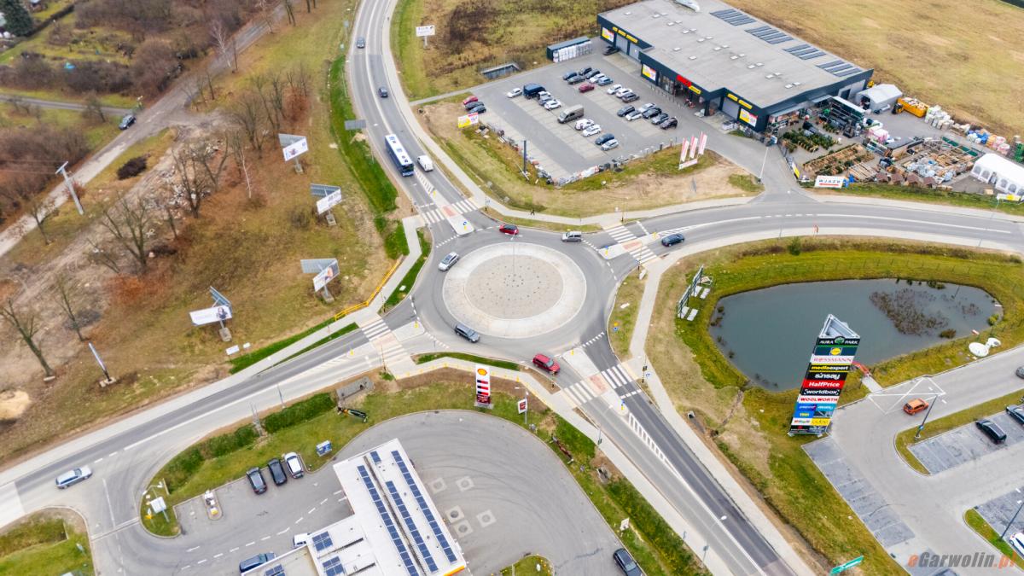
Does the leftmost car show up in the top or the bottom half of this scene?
bottom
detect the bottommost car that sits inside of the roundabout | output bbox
[452,322,481,342]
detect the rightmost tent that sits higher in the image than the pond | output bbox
[972,155,1024,202]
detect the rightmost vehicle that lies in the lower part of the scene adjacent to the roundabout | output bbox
[530,355,560,374]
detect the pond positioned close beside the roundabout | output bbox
[630,227,1024,576]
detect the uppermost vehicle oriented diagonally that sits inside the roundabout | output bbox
[436,252,461,270]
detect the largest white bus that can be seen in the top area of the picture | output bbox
[386,136,414,176]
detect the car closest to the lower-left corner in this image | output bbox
[53,467,93,490]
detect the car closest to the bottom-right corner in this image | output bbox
[1002,528,1024,560]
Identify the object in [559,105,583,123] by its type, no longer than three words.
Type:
vehicle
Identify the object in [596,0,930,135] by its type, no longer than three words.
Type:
building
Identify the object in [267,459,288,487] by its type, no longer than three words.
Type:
car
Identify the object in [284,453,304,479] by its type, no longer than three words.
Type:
car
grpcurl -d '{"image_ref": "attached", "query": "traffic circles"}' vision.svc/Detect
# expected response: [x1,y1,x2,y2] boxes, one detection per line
[417,229,613,354]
